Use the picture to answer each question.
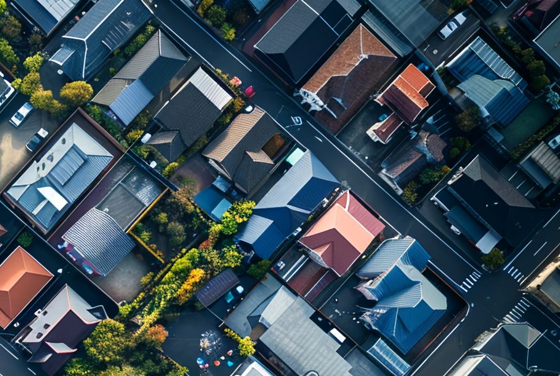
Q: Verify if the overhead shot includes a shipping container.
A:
No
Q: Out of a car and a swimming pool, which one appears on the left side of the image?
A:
car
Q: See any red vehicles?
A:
No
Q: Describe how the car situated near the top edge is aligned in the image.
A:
diagonally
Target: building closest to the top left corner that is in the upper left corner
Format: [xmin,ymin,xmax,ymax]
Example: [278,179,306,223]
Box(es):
[11,0,81,36]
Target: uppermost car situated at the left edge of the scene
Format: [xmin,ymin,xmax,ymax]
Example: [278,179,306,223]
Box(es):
[8,101,33,129]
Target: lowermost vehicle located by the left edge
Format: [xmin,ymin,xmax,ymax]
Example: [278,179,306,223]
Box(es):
[25,125,49,153]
